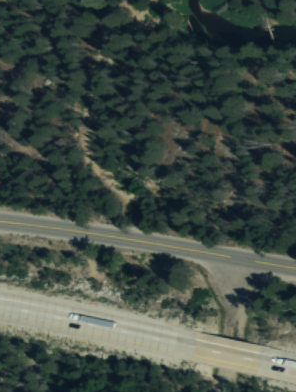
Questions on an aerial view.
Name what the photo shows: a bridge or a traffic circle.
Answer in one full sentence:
The one in the frame is a bridge.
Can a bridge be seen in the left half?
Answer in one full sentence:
No, I can find no bridge in the left half.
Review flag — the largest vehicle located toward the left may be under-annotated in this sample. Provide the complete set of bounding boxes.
[69,314,118,327]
